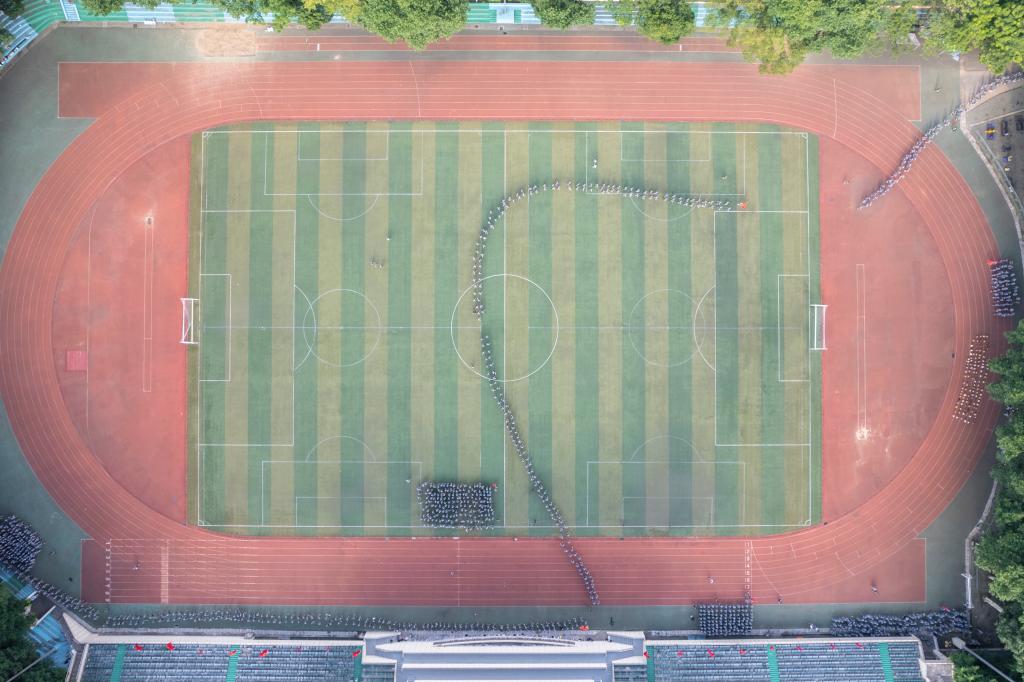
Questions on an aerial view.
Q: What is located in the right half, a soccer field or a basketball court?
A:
soccer field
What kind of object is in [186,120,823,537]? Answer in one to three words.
soccer field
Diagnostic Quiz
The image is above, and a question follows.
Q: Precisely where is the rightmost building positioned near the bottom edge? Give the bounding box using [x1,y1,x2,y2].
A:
[924,654,955,682]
